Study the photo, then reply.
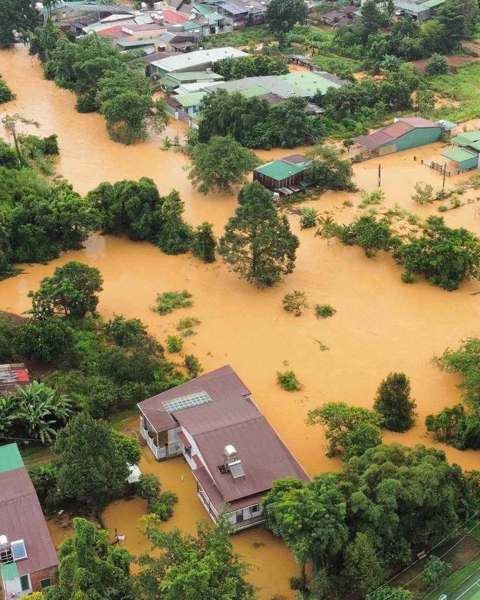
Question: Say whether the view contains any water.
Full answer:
Yes, water shows up in the scene.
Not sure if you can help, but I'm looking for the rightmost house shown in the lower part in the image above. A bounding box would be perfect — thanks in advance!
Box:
[139,365,313,526]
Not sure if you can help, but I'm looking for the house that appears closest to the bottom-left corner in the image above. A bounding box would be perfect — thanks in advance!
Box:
[0,444,65,600]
